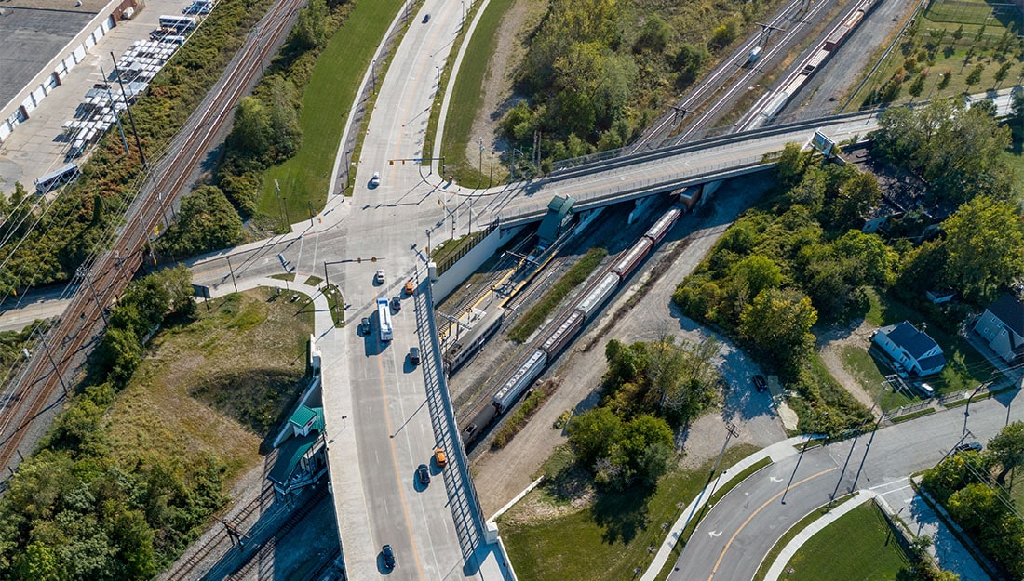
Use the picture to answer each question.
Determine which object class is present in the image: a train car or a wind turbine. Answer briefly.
train car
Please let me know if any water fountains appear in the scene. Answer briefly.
No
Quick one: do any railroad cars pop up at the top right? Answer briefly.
Yes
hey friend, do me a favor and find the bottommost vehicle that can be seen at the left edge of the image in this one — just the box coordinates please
[29,161,80,191]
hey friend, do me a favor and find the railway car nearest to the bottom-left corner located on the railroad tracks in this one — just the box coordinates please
[462,407,495,451]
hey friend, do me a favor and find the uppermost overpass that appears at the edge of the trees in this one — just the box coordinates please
[471,109,858,228]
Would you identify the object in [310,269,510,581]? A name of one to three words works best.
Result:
bridge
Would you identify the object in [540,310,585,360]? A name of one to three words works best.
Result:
rail car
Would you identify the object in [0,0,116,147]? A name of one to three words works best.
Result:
building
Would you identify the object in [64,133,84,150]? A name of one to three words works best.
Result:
vehicle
